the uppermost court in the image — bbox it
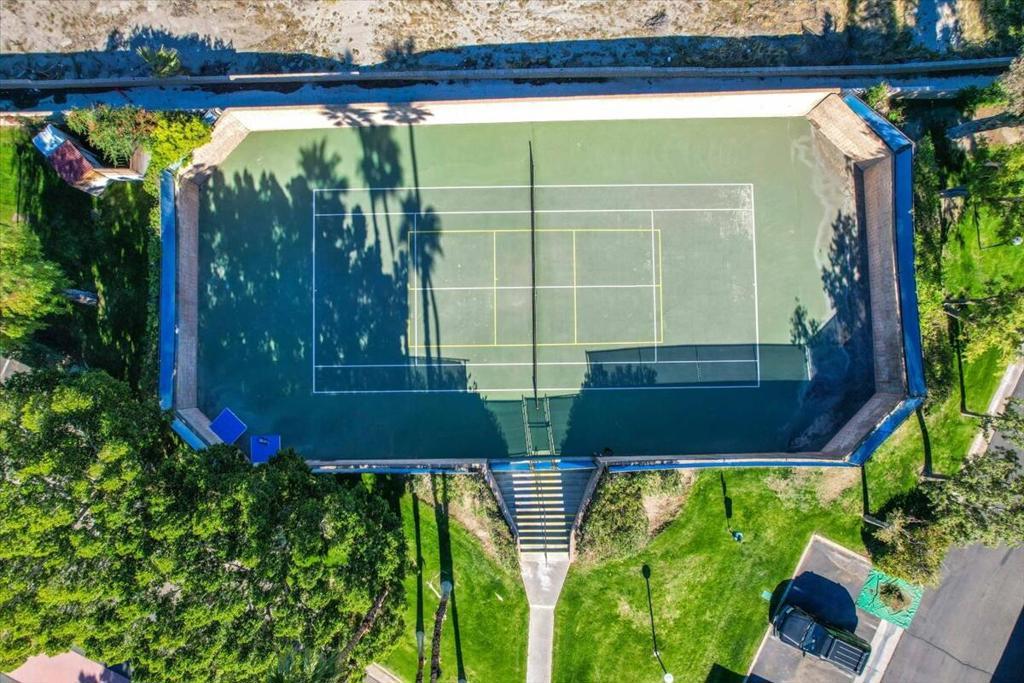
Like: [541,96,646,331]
[196,117,875,462]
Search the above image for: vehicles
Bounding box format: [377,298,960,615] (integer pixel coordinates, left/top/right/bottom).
[764,595,880,681]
